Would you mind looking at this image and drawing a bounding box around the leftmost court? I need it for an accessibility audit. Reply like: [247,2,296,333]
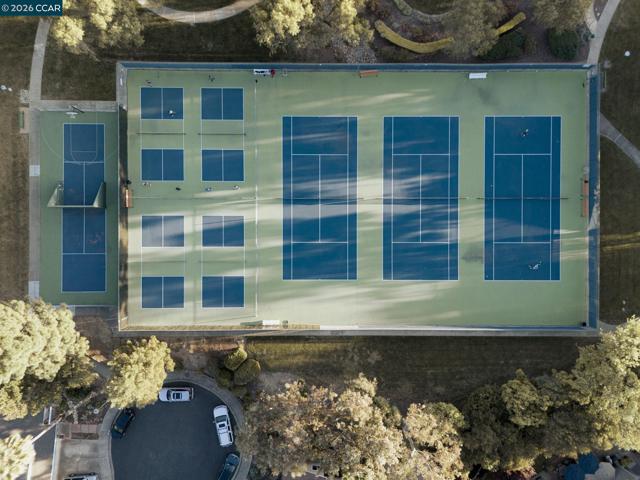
[39,110,121,305]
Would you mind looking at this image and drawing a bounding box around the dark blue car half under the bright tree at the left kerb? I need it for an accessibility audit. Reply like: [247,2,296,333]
[110,407,136,440]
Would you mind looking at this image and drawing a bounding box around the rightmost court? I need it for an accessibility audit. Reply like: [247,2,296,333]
[486,117,560,279]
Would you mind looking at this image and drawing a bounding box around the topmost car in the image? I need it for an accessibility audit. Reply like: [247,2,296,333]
[159,388,195,404]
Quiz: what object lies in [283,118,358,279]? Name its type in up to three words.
tennis court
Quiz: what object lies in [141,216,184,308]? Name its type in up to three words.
sports court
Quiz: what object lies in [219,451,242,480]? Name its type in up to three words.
car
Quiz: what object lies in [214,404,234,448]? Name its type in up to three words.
vehicle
